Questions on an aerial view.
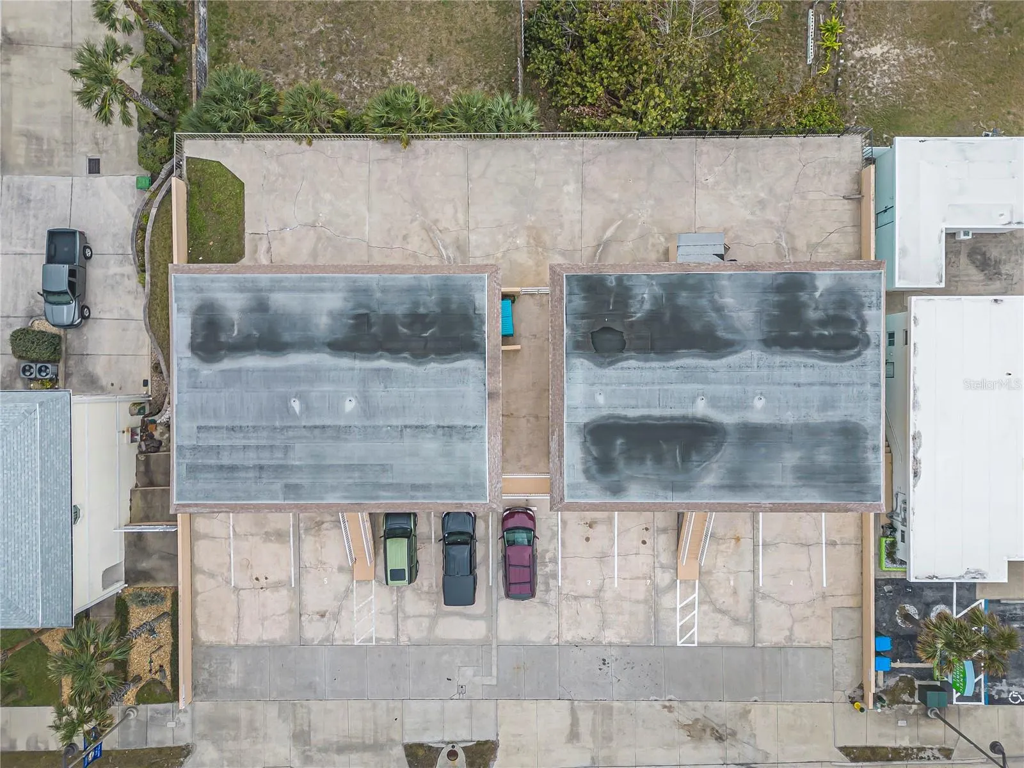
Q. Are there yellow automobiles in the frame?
No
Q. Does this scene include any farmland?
No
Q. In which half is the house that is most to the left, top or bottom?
bottom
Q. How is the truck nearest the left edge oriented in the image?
up and down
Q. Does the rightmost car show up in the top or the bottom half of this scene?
bottom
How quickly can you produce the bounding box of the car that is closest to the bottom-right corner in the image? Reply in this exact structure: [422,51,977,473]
[498,504,542,600]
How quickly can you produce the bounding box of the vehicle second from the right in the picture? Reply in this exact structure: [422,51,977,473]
[438,513,480,604]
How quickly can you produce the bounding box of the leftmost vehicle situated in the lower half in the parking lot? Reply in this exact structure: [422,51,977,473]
[378,513,421,587]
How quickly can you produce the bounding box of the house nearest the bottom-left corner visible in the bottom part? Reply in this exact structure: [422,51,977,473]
[0,390,148,631]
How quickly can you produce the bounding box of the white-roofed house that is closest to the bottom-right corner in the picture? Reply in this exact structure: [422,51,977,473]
[886,295,1024,584]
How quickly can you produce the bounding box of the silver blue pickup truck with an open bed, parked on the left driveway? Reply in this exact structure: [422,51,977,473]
[42,229,92,330]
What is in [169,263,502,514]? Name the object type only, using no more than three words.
building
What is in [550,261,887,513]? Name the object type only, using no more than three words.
building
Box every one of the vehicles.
[498,504,542,600]
[378,513,421,587]
[42,229,92,330]
[438,513,480,604]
